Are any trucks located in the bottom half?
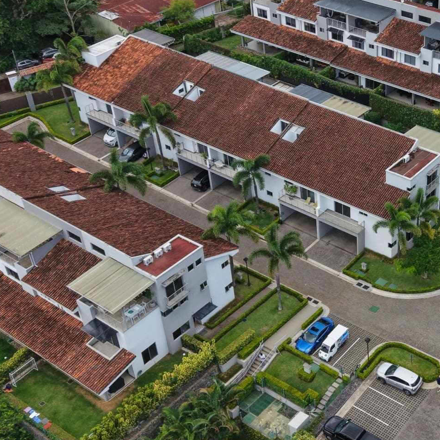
Yes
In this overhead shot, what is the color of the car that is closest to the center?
black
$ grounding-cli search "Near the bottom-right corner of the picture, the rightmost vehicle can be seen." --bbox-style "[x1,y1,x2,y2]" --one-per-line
[375,363,425,395]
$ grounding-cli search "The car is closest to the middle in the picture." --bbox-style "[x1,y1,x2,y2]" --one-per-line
[183,167,209,190]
